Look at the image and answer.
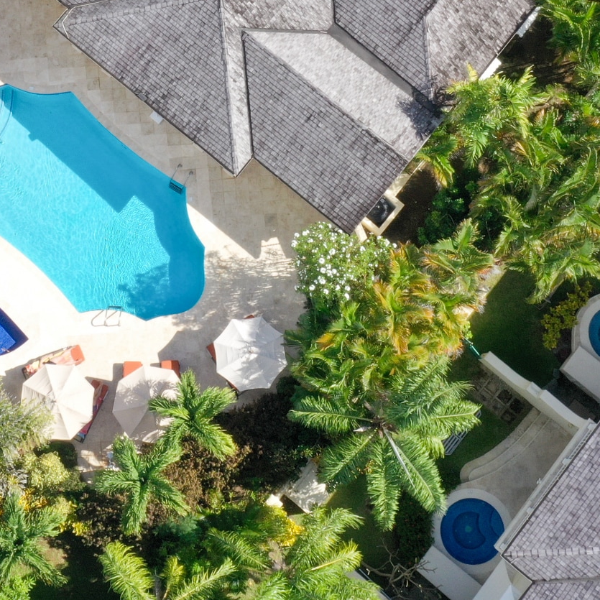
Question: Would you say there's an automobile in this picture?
No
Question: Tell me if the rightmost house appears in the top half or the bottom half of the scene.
bottom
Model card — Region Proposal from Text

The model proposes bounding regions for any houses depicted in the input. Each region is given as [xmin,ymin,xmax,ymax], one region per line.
[449,388,600,600]
[52,0,524,232]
